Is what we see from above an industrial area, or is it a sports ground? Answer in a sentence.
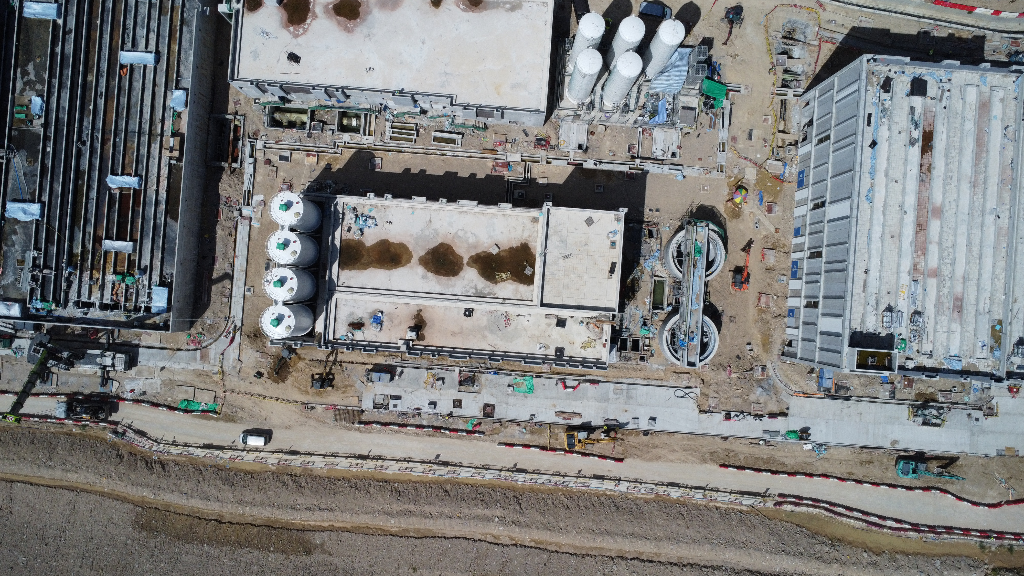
What you see here is an industrial area.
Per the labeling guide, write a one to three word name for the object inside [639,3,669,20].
car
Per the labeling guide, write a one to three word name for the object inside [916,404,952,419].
work vehicle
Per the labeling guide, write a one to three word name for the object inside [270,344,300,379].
work vehicle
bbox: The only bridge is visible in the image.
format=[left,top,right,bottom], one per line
[674,225,708,369]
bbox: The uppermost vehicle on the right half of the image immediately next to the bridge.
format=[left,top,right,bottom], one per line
[728,245,753,294]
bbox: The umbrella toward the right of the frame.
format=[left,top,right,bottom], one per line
[733,188,748,203]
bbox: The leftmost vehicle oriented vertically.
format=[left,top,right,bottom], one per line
[311,349,334,396]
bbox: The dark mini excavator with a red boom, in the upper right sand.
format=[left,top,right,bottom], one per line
[721,0,744,46]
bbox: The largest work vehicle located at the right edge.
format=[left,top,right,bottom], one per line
[890,456,974,483]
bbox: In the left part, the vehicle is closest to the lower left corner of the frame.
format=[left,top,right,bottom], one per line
[55,401,115,420]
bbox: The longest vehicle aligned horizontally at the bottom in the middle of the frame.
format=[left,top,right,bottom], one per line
[559,429,628,451]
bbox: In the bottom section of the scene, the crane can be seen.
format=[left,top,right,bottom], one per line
[0,331,138,425]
